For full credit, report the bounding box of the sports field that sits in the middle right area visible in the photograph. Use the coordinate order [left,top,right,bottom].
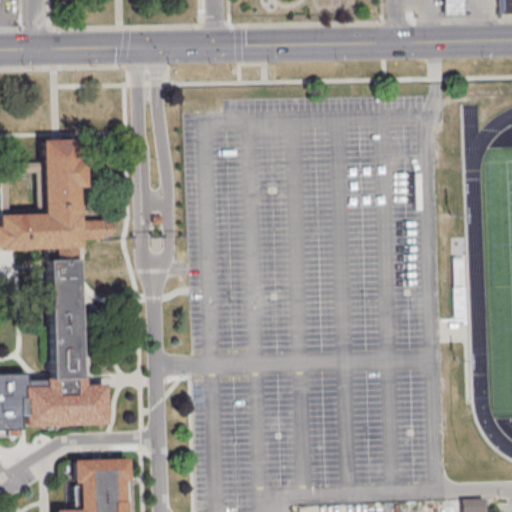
[482,147,512,418]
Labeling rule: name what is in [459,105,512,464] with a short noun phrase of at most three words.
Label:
running track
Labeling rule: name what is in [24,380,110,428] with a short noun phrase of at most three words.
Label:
building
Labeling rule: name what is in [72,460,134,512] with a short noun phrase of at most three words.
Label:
building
